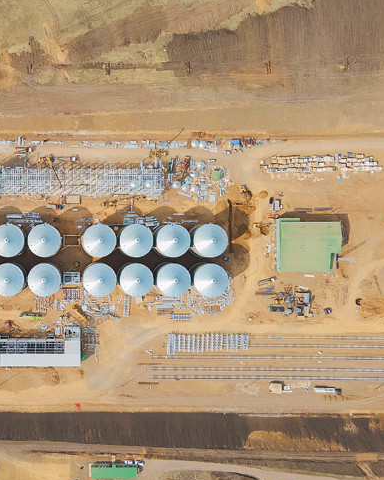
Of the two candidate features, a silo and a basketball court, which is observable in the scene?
silo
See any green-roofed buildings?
Yes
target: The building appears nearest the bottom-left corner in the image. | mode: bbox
[90,455,137,479]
